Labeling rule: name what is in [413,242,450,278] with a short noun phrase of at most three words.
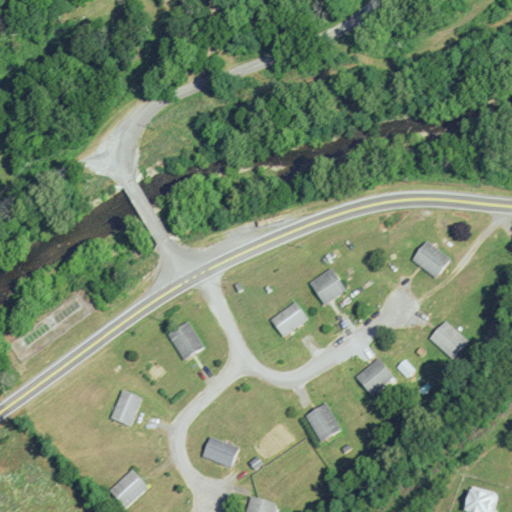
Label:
house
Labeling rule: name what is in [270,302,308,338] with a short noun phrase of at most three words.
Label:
house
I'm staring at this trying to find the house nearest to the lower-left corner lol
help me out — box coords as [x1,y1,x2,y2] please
[110,470,148,508]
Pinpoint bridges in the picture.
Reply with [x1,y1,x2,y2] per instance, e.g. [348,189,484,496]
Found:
[119,174,173,248]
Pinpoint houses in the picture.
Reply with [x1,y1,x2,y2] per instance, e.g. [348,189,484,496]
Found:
[270,302,308,338]
[202,437,242,468]
[169,322,204,362]
[247,496,278,512]
[110,470,148,508]
[358,360,392,390]
[464,486,498,512]
[309,268,346,304]
[112,390,143,426]
[413,242,450,278]
[430,322,468,359]
[306,404,341,443]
